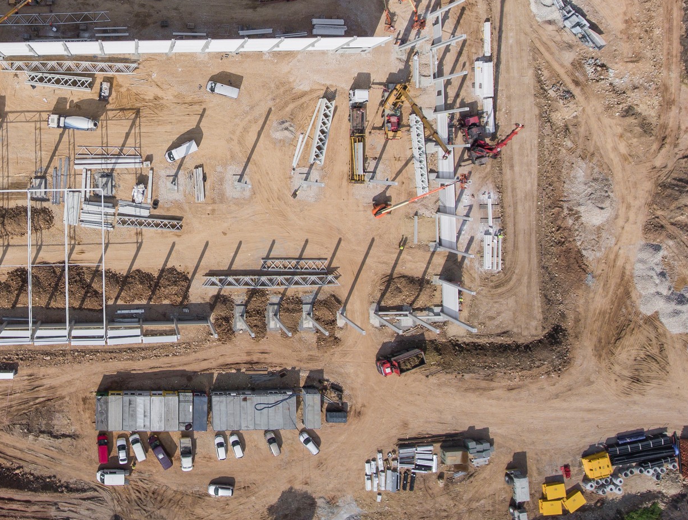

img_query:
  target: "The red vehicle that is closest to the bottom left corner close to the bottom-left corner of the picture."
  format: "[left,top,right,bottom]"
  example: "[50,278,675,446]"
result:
[96,435,109,468]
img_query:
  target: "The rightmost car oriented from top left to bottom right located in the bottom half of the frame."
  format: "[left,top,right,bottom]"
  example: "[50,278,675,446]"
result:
[299,431,322,459]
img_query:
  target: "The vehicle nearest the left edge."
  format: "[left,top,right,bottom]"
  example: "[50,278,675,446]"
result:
[47,112,98,131]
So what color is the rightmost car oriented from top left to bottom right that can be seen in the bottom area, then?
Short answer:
white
